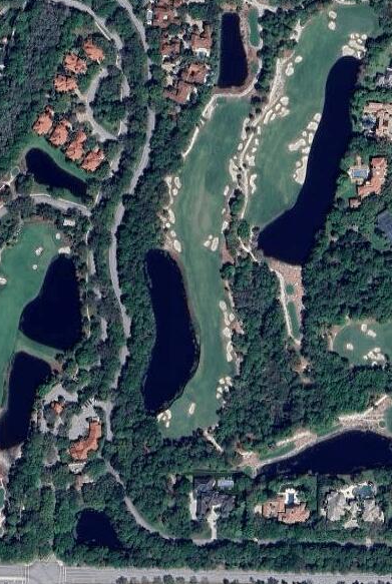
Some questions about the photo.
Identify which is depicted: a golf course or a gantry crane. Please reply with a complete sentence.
There is a golf course in the scene.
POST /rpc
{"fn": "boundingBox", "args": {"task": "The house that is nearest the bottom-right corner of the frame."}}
[345,497,385,527]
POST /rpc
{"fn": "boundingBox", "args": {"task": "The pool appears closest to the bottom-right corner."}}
[352,484,375,499]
